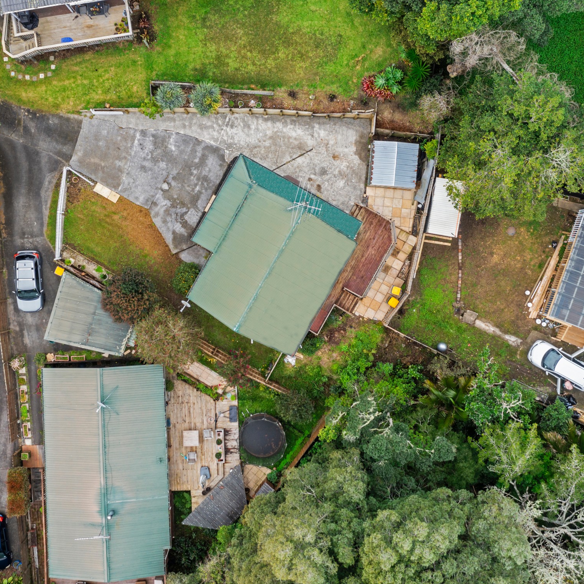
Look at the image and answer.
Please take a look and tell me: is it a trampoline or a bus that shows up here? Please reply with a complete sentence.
Visible in the photo is a trampoline.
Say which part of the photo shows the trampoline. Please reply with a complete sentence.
The trampoline is located in the bottom region of the scene.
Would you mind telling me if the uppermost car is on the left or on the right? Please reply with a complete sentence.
The uppermost car is on the left side of the image.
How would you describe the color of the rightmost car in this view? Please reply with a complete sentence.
In this view, the rightmost car is white.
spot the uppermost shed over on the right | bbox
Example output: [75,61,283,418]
[369,140,419,190]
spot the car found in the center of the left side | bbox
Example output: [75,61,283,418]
[11,250,43,312]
